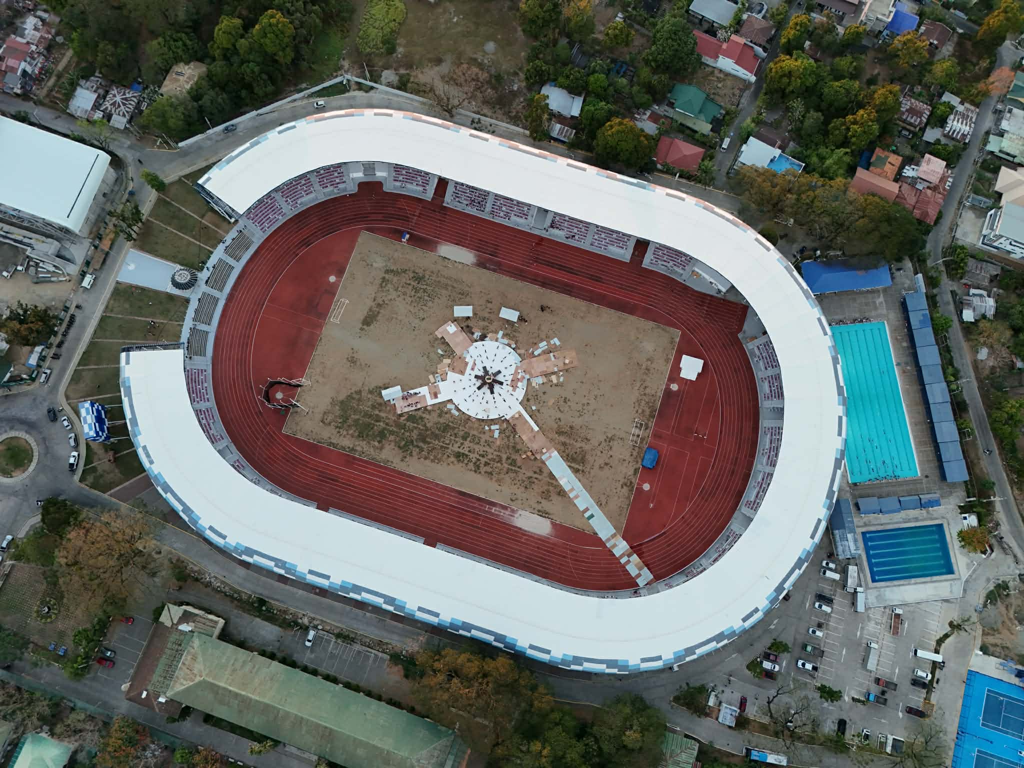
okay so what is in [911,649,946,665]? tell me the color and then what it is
white vehicle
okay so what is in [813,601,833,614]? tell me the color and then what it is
white vehicle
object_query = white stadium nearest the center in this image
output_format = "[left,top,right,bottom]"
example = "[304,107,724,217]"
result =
[120,109,846,673]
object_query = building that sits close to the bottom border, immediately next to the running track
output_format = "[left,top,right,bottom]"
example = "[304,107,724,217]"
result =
[125,603,461,768]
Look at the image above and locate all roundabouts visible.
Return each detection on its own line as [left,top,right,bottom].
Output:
[0,432,38,482]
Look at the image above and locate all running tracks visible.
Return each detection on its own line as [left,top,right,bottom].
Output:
[213,177,759,591]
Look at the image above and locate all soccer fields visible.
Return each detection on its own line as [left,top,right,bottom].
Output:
[283,231,680,535]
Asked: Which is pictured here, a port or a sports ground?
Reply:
sports ground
